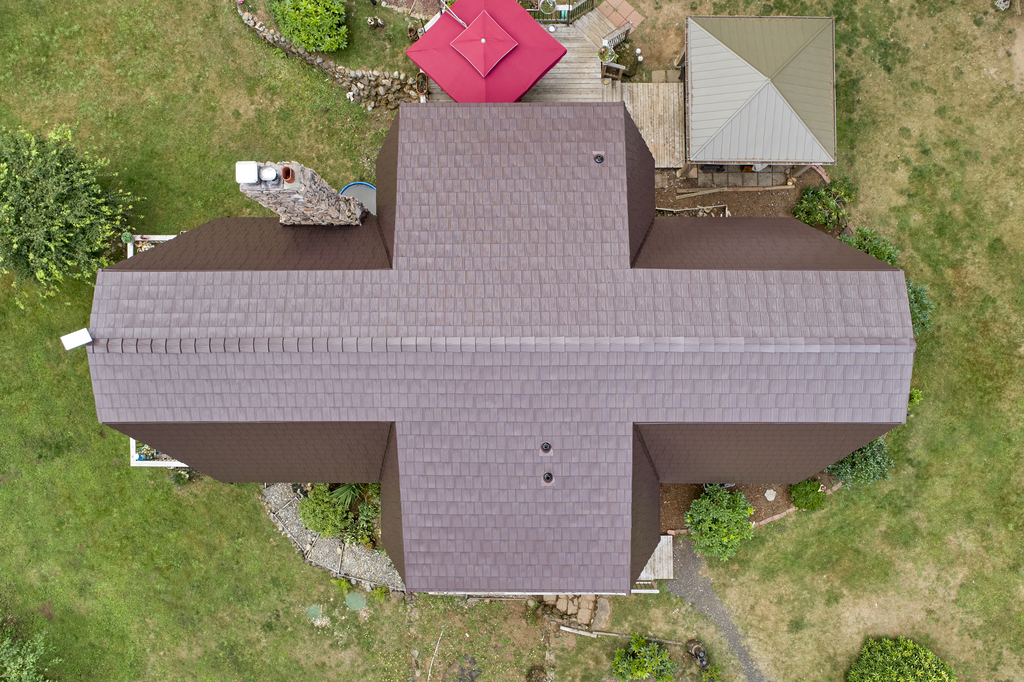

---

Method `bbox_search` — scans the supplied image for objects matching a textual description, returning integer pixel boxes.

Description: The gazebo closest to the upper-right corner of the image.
[670,15,837,182]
